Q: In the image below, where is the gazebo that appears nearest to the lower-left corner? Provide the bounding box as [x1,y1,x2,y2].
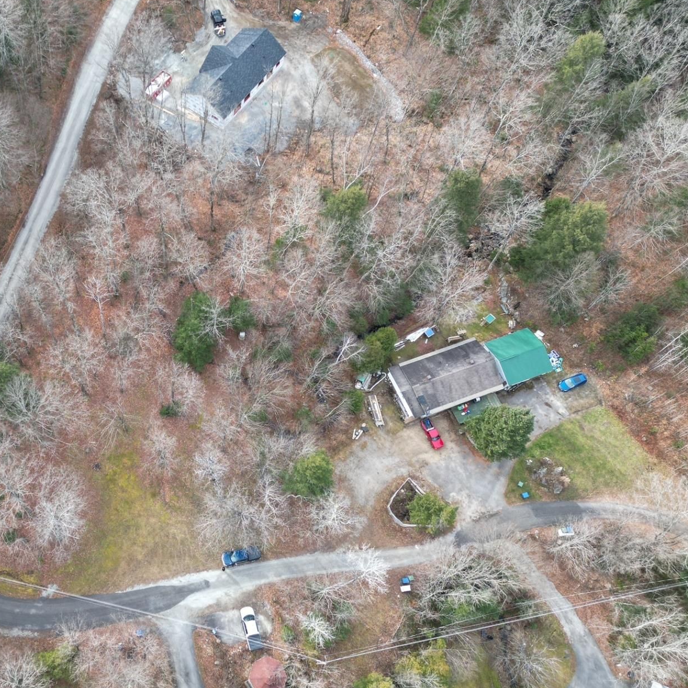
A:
[249,657,288,688]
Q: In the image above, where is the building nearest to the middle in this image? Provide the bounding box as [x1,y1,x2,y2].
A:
[386,338,507,422]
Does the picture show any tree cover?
Yes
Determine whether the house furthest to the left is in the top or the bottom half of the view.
top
